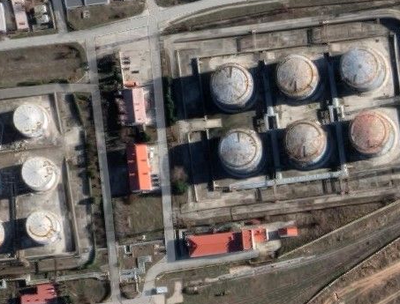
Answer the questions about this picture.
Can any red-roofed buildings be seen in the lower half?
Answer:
Yes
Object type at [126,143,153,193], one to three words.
building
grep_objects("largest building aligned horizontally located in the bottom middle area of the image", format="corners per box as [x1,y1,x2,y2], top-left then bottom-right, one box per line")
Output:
[187,230,240,259]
